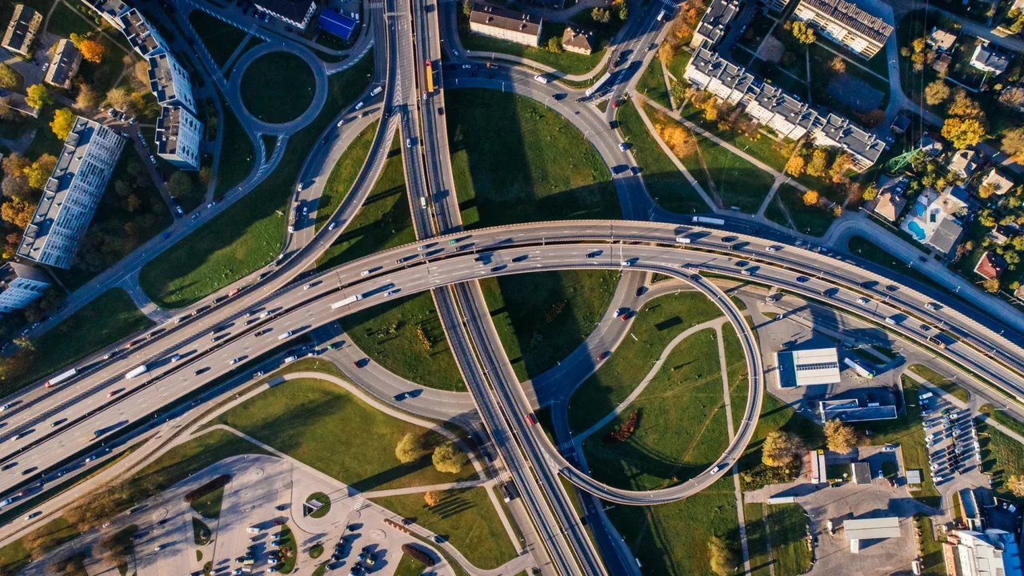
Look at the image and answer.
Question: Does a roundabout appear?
Yes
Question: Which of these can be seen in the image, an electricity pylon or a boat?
electricity pylon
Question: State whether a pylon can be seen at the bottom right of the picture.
No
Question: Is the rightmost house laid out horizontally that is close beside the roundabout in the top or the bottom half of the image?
top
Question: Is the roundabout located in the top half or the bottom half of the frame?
top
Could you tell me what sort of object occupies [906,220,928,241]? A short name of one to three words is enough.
swimming pool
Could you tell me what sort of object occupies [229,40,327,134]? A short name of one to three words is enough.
roundabout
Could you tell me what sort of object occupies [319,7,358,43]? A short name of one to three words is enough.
building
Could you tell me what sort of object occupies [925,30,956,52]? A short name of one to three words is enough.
house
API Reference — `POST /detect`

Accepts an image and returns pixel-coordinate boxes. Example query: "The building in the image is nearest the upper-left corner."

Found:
[2,4,42,54]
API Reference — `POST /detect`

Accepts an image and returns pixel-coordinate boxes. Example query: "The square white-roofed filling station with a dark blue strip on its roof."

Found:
[773,348,841,388]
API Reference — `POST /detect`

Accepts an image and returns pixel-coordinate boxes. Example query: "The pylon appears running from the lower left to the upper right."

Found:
[885,144,934,176]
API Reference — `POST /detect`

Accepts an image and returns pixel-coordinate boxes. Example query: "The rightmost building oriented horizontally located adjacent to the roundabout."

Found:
[253,0,318,29]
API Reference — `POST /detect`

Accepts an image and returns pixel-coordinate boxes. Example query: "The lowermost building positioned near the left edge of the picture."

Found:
[0,262,51,319]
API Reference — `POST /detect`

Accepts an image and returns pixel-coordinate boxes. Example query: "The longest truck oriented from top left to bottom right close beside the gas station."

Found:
[841,355,873,378]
